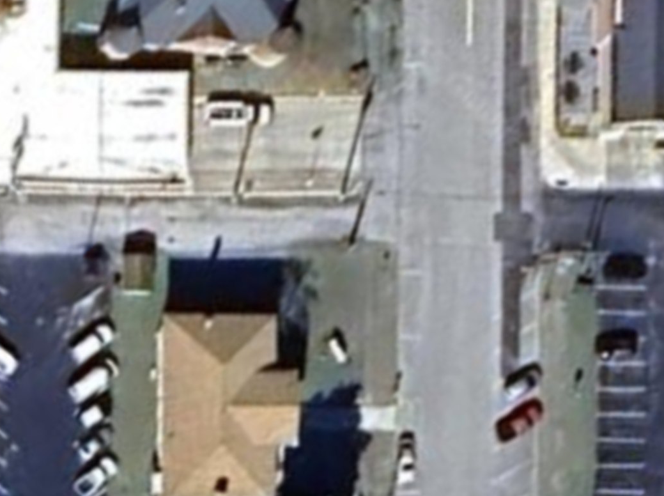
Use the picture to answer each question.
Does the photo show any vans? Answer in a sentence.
Yes, I can see a van in this picture.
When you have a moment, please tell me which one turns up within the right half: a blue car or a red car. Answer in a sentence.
The one visible within the right half is a red car.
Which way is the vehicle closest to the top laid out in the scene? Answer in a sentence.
In this picture, the vehicle closest to the top is oriented from left to right.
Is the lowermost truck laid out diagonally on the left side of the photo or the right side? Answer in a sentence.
The lowermost truck laid out diagonally appears in the left half of the scene.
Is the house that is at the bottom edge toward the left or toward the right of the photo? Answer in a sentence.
You can find the house that is at the bottom edge on the left side of the picture.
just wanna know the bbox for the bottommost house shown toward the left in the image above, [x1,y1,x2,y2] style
[148,312,300,496]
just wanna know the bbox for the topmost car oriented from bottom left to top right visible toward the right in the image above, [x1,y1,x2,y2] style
[499,361,546,399]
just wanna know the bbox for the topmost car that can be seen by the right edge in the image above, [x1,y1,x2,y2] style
[601,255,649,279]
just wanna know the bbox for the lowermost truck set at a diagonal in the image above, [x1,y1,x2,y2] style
[67,454,122,496]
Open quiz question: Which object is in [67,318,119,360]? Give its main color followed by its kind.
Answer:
white car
